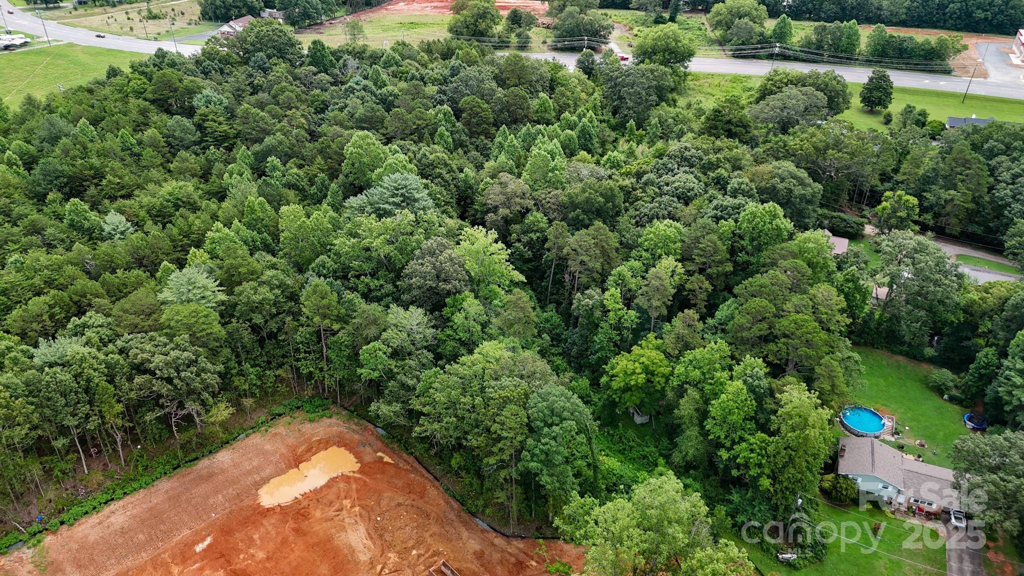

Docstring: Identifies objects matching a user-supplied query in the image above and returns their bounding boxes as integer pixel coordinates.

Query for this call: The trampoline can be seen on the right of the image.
[962,413,990,432]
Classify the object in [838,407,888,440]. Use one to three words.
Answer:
swimming pool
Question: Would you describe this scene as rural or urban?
rural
